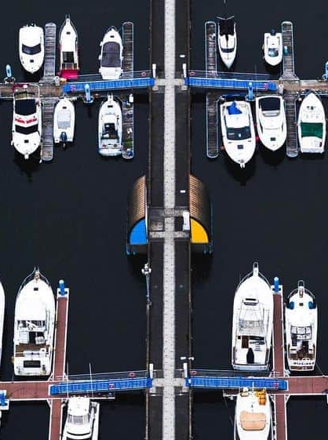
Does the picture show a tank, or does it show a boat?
boat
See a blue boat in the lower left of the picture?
No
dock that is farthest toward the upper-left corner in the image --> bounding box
[33,23,63,84]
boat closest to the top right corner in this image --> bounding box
[264,30,281,64]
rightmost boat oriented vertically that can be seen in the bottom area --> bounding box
[285,284,318,378]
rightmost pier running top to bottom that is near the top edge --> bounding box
[274,22,302,79]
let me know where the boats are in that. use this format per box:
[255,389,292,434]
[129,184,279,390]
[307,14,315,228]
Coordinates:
[258,93,287,151]
[59,391,96,440]
[14,267,56,389]
[297,90,326,150]
[234,392,273,440]
[59,17,78,78]
[98,98,122,156]
[99,27,123,81]
[11,80,41,157]
[54,97,78,145]
[233,266,274,378]
[264,30,281,64]
[20,23,47,82]
[285,284,318,378]
[221,95,257,167]
[217,0,237,78]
